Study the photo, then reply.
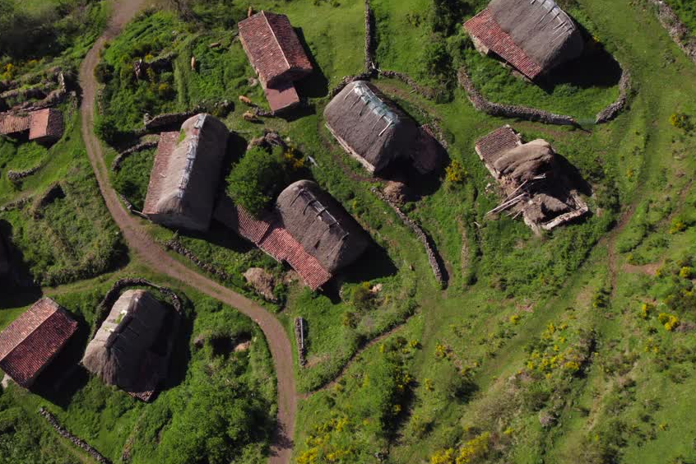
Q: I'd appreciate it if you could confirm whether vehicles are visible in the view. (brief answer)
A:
No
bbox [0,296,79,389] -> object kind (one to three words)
house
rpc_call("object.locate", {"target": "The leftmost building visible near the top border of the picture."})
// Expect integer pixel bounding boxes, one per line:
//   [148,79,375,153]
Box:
[237,8,314,118]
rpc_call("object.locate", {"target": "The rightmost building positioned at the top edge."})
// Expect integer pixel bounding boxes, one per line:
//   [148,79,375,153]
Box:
[464,0,593,85]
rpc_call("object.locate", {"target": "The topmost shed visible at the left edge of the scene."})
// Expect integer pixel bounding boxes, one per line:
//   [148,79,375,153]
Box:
[0,107,66,147]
